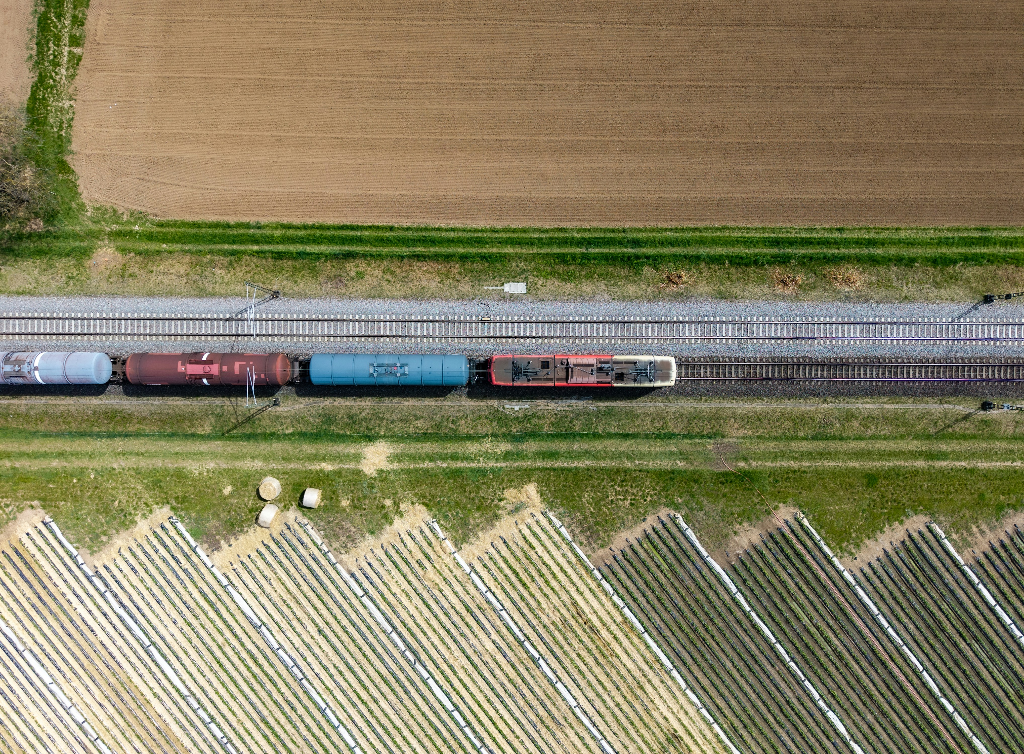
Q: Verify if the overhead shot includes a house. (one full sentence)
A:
No, no house can be seen from above.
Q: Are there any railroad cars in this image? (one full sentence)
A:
Yes, this view includes a railroad car.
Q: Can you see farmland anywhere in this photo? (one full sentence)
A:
Yes, farmland can be seen from above here.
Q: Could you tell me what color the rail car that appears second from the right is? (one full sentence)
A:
The color of the rail car that appears second from the right is blue.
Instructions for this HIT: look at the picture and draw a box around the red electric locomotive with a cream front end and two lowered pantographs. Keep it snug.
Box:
[483,354,680,387]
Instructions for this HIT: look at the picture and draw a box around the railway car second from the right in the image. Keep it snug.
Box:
[303,353,483,386]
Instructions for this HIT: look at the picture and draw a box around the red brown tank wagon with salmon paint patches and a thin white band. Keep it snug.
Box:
[123,352,307,385]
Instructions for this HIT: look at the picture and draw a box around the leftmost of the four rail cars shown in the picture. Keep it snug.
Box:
[0,351,127,384]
